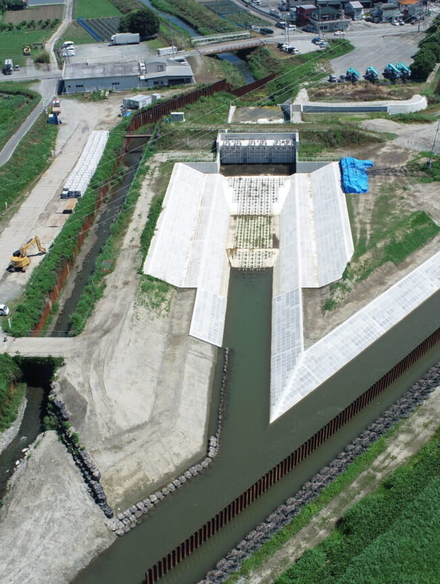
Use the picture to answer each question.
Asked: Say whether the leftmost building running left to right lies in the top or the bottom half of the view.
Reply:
top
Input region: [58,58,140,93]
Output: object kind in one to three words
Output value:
building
